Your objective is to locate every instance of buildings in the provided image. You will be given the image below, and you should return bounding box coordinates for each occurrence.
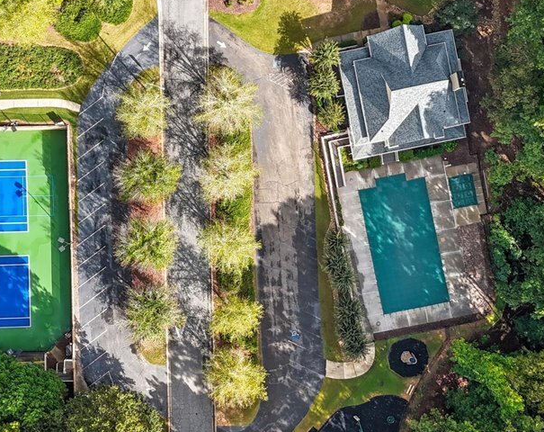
[334,24,472,164]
